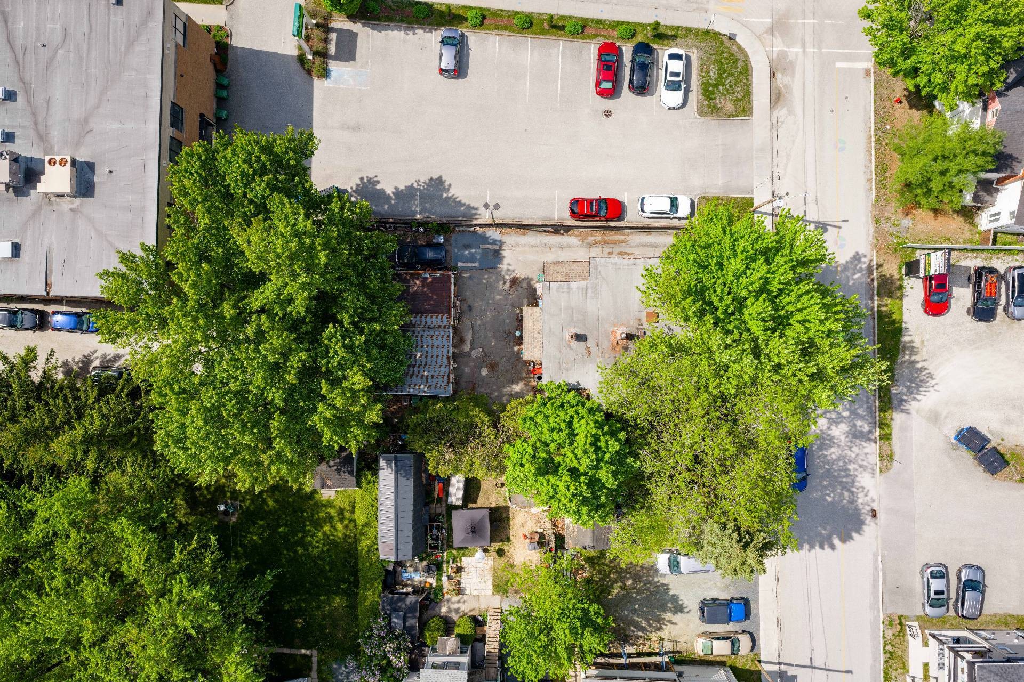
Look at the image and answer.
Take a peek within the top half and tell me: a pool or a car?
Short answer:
car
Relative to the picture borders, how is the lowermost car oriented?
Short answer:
from left to right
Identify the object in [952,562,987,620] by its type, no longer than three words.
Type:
car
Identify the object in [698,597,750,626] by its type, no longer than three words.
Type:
car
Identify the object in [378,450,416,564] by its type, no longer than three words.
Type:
shed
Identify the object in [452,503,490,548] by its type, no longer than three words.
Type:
gazebo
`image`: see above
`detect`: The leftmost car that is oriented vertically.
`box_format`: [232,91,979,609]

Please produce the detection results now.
[438,28,464,80]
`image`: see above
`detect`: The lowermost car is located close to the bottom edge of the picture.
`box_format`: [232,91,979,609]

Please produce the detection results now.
[694,630,751,658]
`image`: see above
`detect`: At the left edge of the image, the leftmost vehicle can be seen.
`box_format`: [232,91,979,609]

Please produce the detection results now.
[0,306,45,333]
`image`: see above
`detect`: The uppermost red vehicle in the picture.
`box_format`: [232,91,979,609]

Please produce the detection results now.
[594,42,621,98]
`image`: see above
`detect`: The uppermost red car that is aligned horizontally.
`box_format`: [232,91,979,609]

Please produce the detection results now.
[568,195,622,222]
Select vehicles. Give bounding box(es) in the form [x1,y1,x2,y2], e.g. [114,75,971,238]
[1003,265,1024,321]
[50,309,105,335]
[654,549,719,578]
[568,195,622,222]
[637,192,691,219]
[952,562,987,620]
[698,597,750,626]
[0,306,45,333]
[784,441,813,495]
[658,49,686,110]
[920,271,952,320]
[438,28,464,80]
[920,562,951,618]
[594,42,621,98]
[966,266,1000,319]
[627,42,655,96]
[694,630,751,658]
